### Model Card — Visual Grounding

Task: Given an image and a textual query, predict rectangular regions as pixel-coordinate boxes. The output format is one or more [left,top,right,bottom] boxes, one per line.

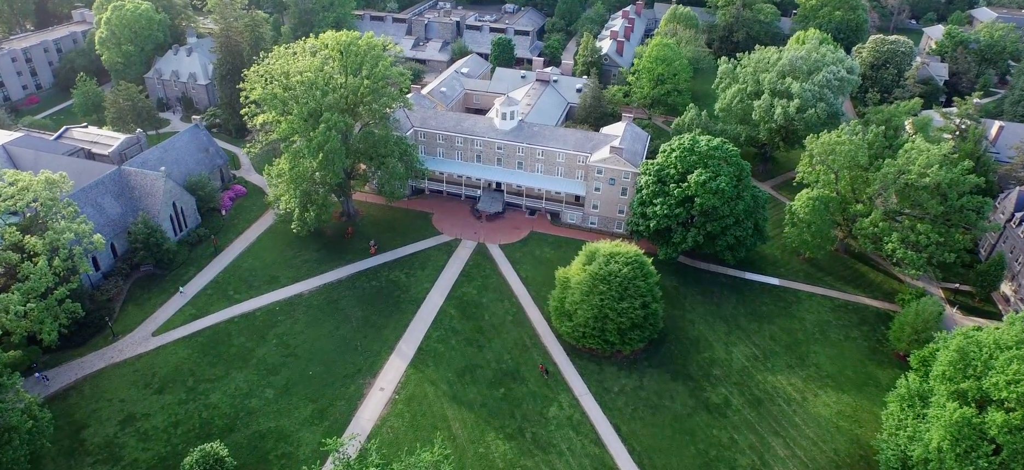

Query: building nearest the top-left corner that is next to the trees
[0,7,100,107]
